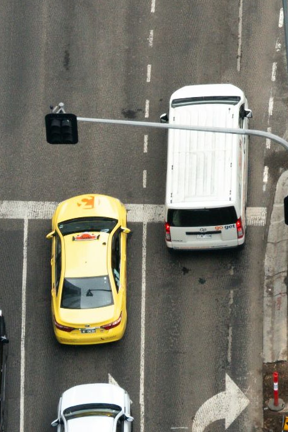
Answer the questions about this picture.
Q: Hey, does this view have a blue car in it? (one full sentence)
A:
No, the picture doesn't show any blue car.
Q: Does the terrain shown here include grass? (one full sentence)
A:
No, there's no grass in this view.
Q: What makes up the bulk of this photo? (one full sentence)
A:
For the most part, this view shows paved ground.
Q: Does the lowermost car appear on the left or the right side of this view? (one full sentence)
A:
It is on the left.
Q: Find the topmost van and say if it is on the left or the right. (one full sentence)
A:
You can find the topmost van on the right side of the picture.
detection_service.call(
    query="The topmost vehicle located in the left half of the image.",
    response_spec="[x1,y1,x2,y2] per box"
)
[46,191,140,345]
